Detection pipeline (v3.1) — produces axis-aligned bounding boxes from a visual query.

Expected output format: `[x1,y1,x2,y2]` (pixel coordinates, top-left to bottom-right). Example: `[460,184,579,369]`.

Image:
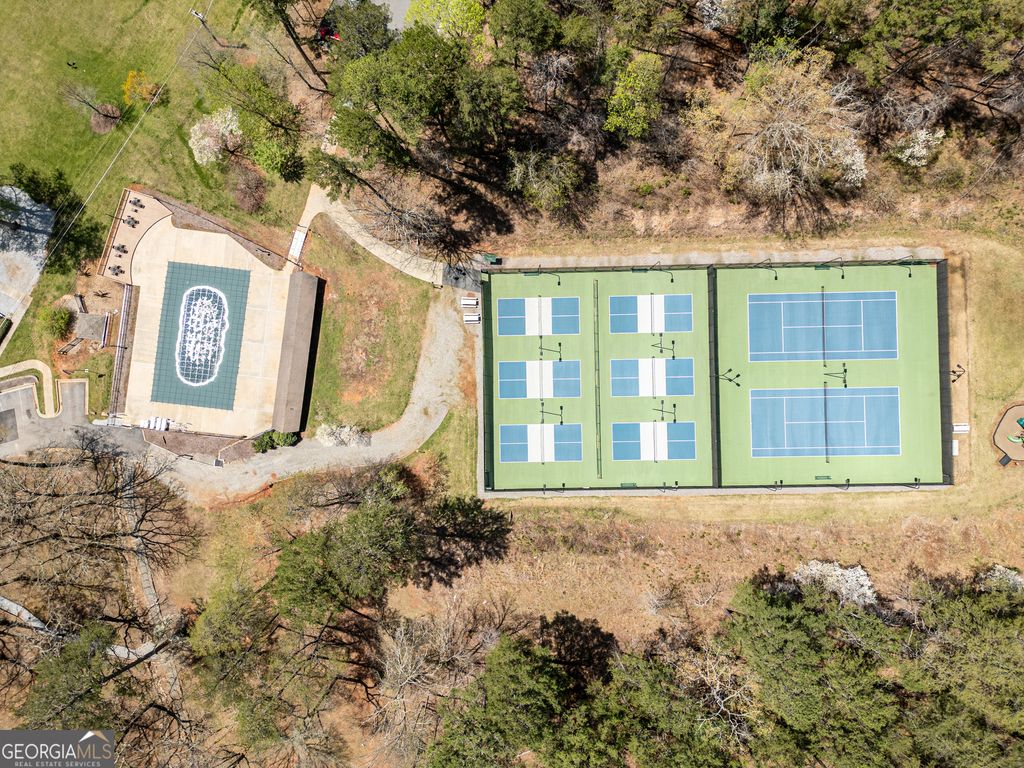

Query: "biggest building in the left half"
[272,271,320,433]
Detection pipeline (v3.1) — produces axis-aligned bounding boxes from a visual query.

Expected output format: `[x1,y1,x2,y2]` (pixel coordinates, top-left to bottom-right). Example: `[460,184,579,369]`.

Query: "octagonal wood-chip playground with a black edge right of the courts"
[993,403,1024,466]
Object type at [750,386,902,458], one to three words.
tennis court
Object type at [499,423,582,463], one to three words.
sports court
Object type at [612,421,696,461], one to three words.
sports court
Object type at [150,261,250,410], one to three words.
swimming pool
